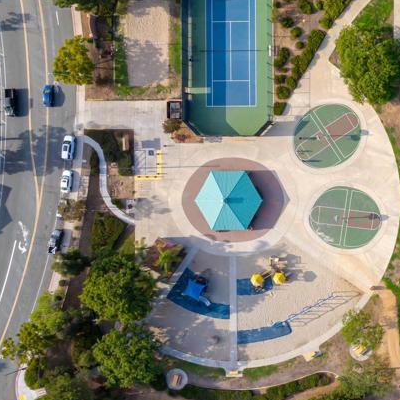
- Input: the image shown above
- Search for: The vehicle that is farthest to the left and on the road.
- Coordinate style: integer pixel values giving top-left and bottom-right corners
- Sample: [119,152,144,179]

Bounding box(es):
[3,89,18,115]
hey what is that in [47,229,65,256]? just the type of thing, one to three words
vehicle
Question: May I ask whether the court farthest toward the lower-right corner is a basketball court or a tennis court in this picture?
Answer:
basketball court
